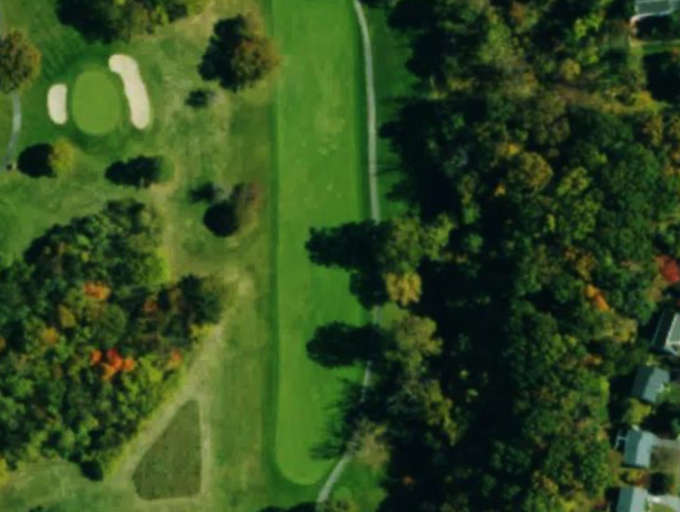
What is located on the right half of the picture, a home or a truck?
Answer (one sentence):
There is a home on the right half of the picture.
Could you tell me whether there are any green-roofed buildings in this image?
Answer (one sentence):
Yes, there's a green-roofed building down there.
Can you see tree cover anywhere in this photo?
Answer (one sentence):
Yes, there is tree cover in the image.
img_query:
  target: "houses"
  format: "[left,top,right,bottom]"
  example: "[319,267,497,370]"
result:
[617,485,651,512]
[635,0,680,17]
[631,363,672,404]
[615,429,657,469]
[652,310,680,352]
